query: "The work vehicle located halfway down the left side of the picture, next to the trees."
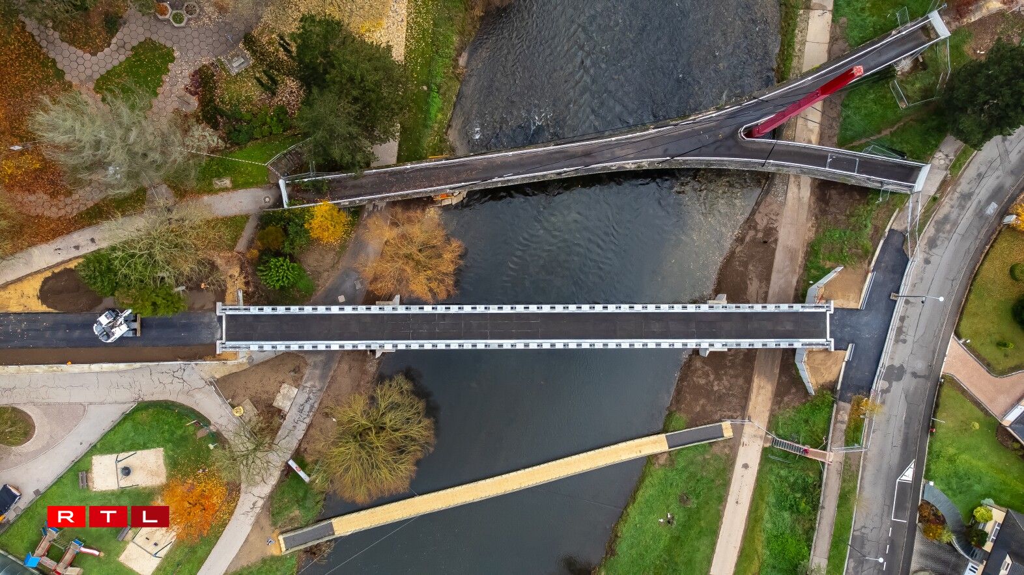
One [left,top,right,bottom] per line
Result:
[96,308,141,342]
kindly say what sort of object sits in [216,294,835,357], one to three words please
bridge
